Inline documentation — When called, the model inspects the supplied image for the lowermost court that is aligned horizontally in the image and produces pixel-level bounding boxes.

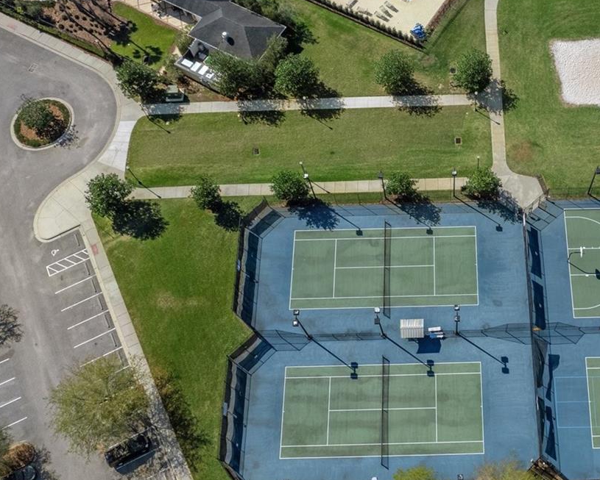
[221,332,539,480]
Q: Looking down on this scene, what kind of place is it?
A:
sports ground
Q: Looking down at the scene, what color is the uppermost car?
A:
black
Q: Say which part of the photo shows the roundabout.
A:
top left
